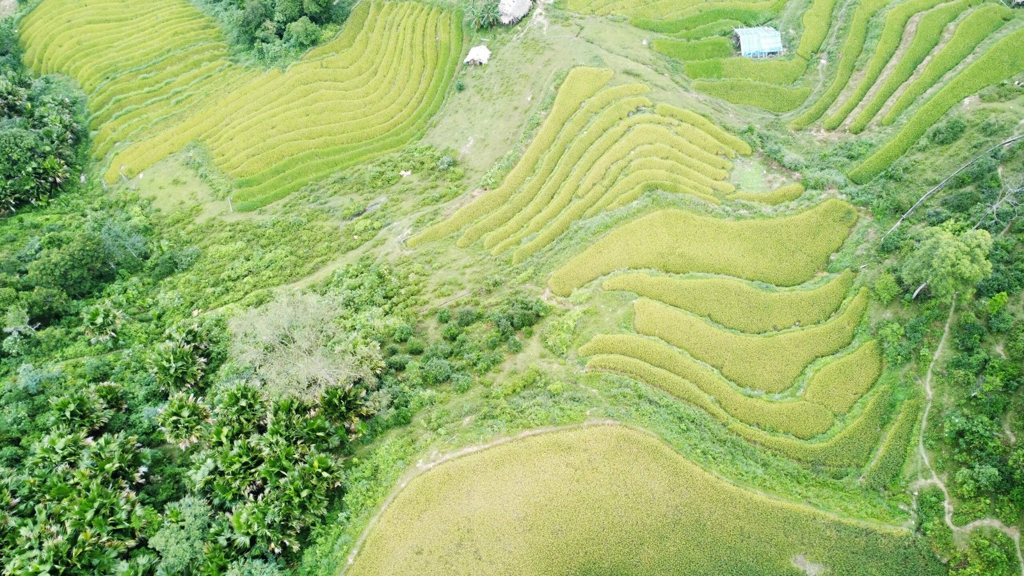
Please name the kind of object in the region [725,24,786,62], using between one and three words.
shed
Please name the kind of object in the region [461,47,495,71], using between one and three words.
shed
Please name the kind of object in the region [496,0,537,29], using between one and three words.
building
